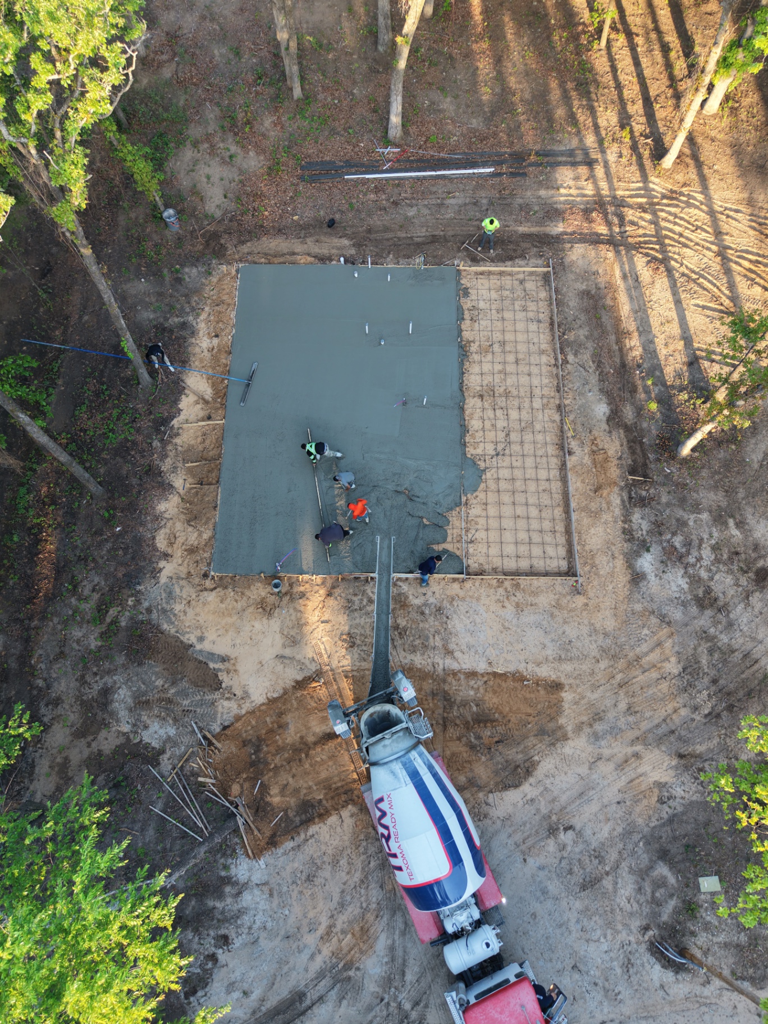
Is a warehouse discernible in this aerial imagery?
No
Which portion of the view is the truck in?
bottom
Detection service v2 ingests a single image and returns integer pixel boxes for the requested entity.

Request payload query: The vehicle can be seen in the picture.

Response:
[327,537,576,1024]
